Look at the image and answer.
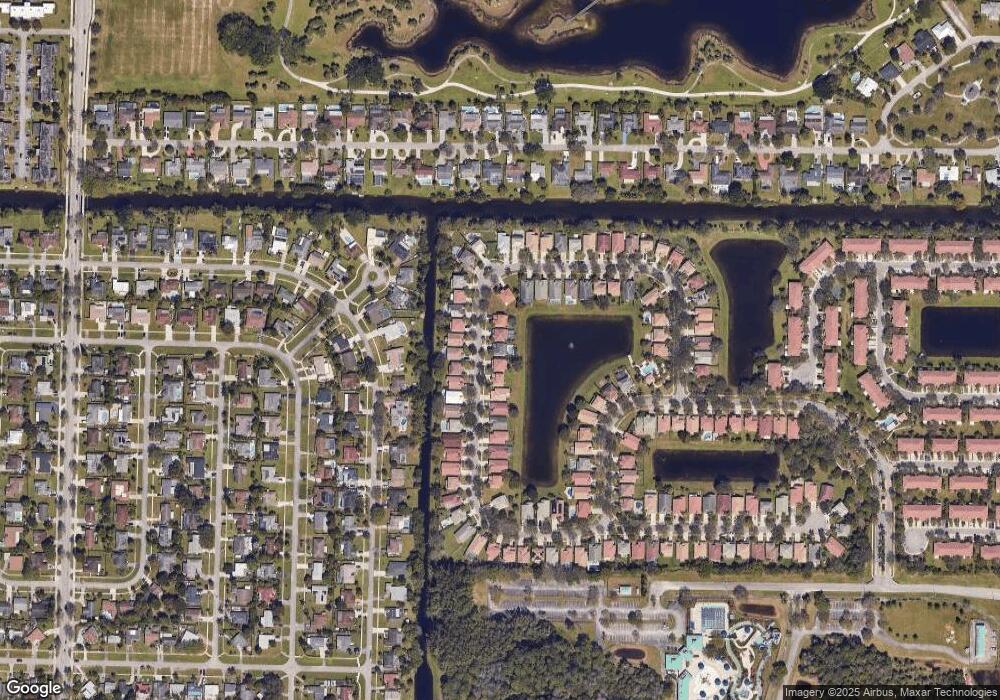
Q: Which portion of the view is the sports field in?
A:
top left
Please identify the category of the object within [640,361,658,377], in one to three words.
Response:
swimming pool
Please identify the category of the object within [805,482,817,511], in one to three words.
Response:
house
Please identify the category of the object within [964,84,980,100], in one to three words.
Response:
gazebo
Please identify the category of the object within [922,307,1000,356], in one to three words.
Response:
pond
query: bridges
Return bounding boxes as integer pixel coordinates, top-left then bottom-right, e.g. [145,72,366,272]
[65,187,86,216]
